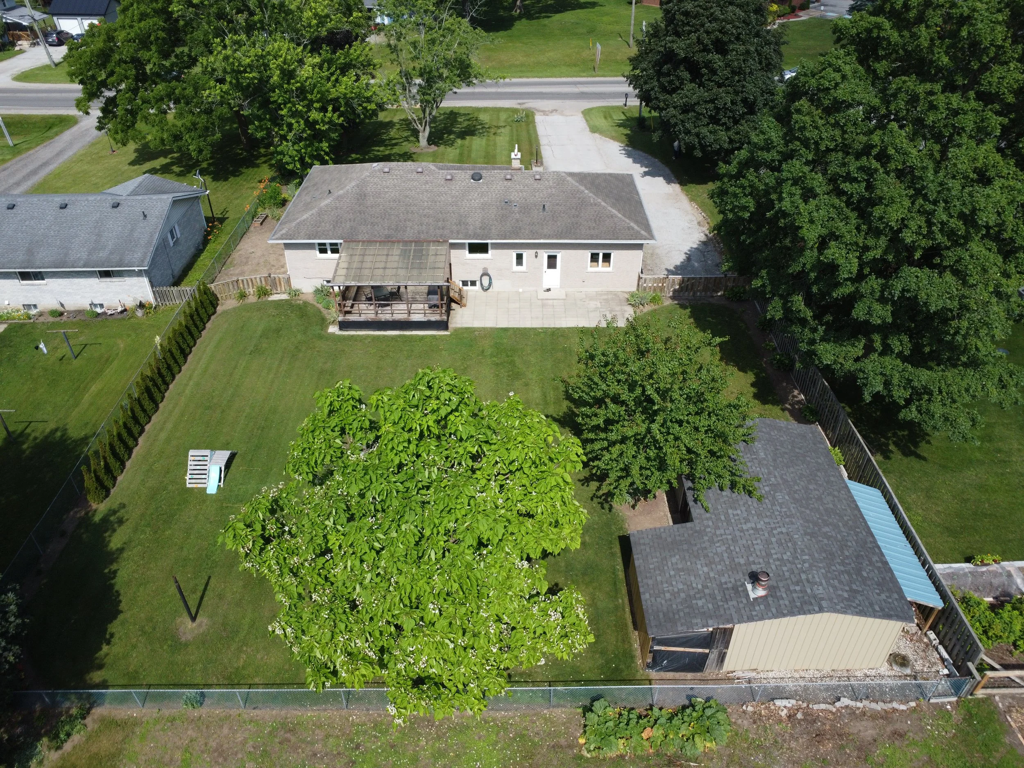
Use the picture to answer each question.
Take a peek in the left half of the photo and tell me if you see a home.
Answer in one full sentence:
Yes, there is a home in the left half of the photo.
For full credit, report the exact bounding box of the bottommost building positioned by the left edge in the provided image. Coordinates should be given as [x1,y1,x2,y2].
[0,171,208,305]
